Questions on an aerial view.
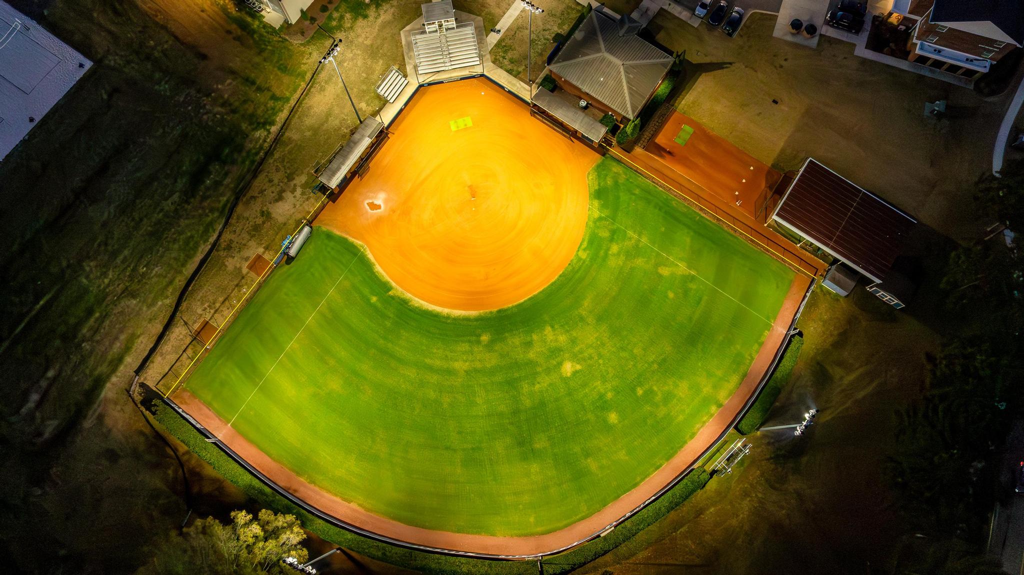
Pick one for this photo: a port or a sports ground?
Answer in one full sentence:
The picture captures a sports ground.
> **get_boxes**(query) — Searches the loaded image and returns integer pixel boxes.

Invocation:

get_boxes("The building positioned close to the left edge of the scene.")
[0,0,97,175]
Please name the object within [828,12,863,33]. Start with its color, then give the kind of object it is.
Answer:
black car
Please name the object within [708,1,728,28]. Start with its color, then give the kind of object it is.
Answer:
black car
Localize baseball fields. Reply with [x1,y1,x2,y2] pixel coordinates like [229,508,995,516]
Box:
[168,76,819,555]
